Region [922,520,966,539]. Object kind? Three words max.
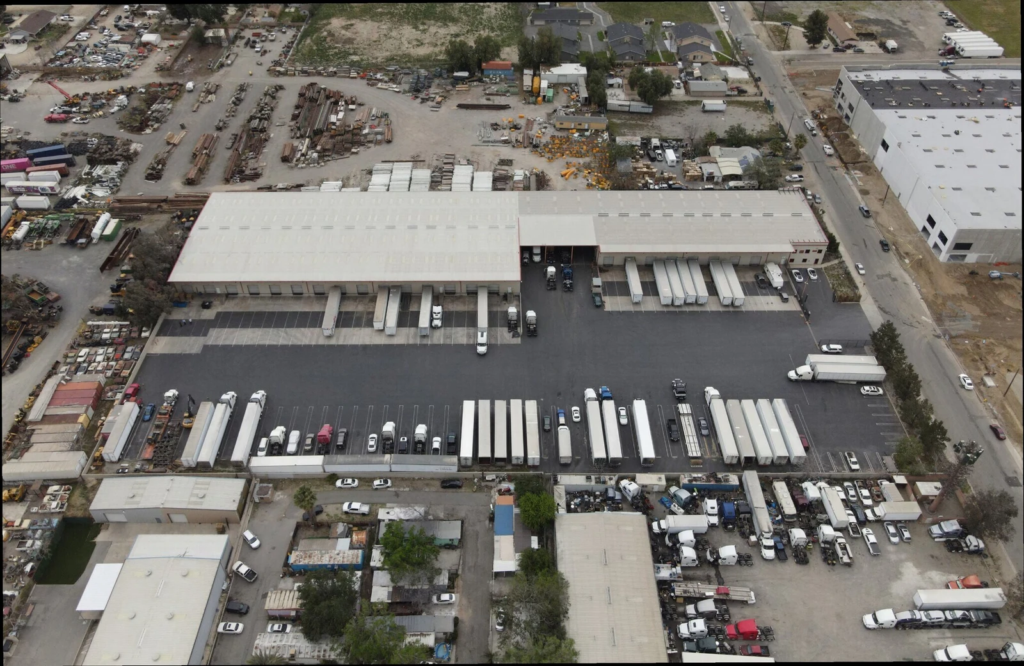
vehicle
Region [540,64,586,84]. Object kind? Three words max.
building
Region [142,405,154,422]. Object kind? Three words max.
vehicle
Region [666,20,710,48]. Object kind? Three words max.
house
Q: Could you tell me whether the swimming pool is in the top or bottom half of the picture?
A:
bottom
